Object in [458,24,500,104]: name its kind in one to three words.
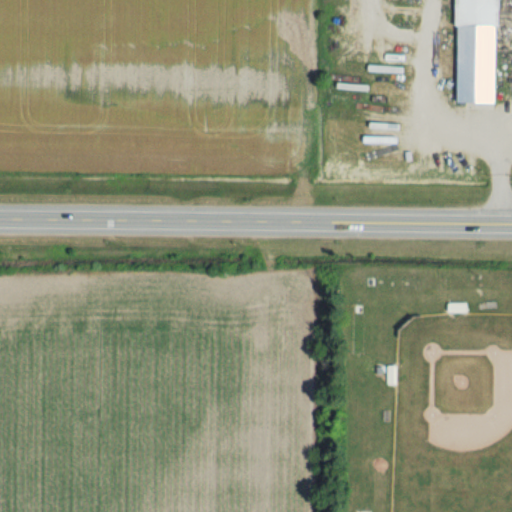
building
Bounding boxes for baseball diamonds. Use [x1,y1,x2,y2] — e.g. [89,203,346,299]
[392,314,512,512]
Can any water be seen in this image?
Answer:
No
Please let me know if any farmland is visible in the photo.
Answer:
Yes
